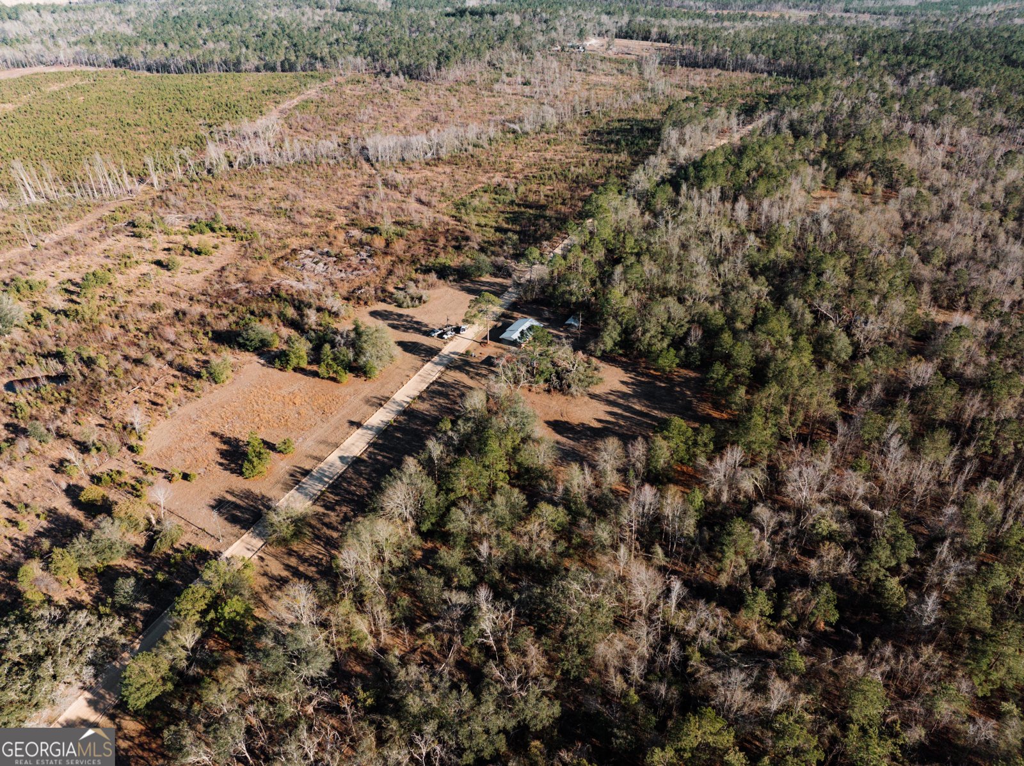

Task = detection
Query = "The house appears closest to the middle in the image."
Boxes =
[497,318,543,351]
